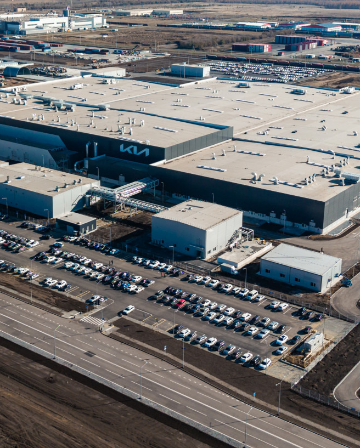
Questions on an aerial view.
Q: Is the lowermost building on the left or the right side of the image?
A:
right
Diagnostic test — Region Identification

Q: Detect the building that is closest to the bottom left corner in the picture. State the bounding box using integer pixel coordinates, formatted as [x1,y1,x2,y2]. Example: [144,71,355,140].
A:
[56,213,98,236]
